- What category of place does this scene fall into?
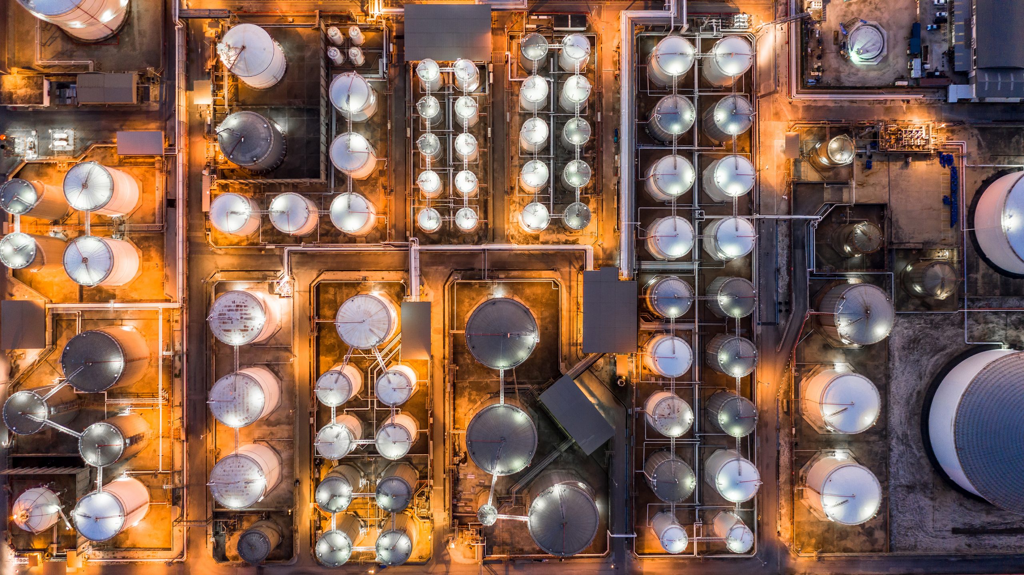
industrial area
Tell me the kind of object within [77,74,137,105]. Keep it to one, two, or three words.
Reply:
building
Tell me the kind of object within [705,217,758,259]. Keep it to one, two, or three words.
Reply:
storage tank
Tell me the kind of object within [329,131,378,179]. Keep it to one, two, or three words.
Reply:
storage tank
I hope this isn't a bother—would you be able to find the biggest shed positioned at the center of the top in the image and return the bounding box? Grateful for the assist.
[404,4,491,68]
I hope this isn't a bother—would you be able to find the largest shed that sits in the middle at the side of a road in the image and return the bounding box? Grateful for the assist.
[582,267,637,353]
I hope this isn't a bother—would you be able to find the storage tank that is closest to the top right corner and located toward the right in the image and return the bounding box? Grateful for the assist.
[842,22,885,65]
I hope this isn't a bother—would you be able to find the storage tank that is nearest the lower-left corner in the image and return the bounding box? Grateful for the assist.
[8,482,75,534]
